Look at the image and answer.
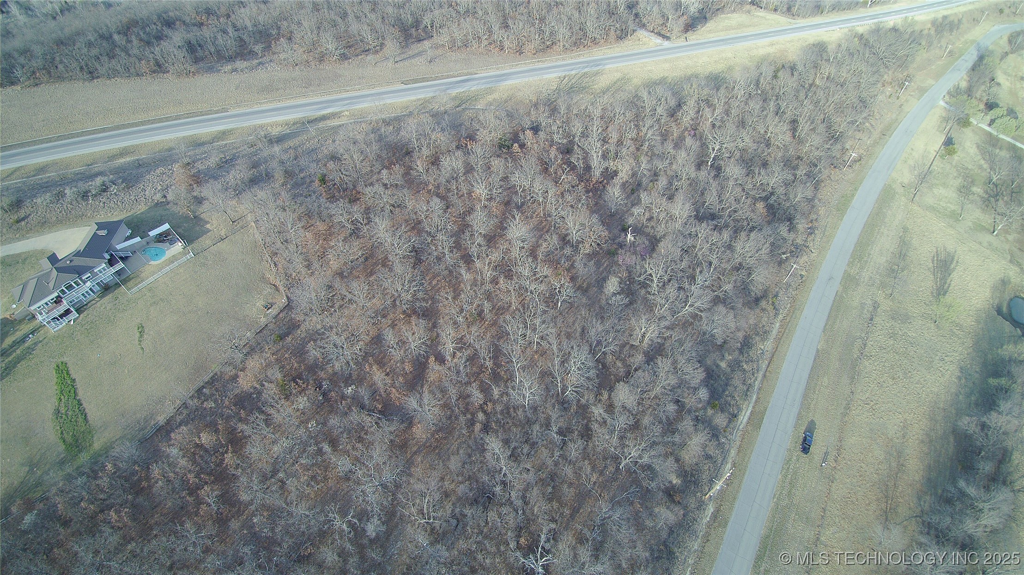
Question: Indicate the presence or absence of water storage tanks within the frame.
No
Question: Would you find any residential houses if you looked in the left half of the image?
Yes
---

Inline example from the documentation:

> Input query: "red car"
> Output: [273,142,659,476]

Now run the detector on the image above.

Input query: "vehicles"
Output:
[797,431,814,458]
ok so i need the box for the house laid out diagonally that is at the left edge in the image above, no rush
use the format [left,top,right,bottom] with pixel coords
[1,221,136,333]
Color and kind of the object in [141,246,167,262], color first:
blue swimming pool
